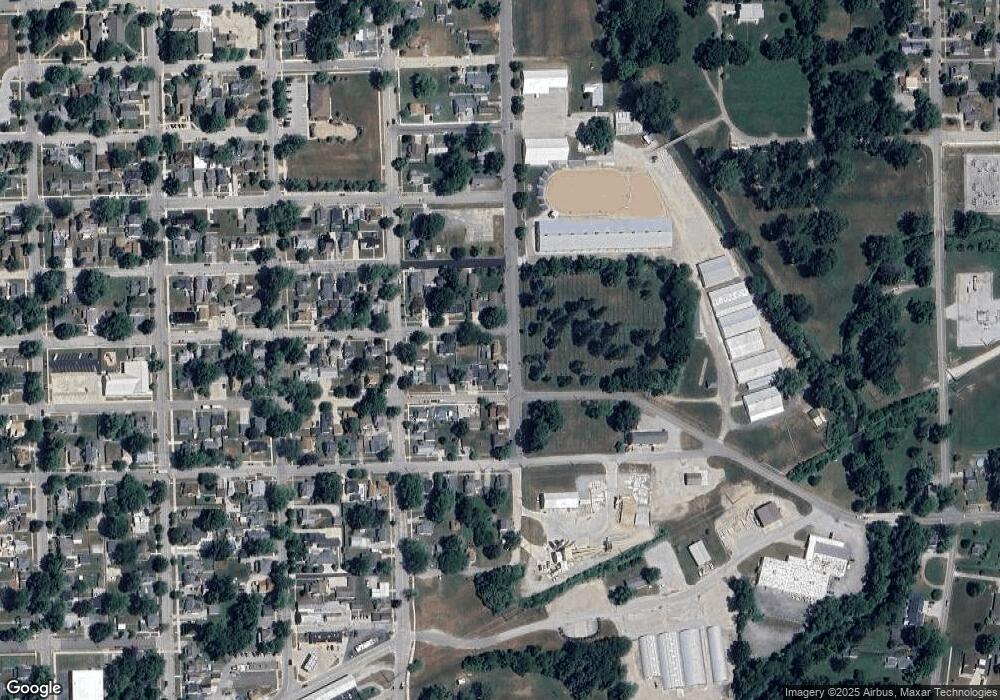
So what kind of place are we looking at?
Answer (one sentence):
This image shows a residential area.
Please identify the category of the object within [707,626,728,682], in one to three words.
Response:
shed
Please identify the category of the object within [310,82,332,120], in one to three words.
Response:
building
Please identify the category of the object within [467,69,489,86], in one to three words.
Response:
house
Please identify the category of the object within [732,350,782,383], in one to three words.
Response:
barn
